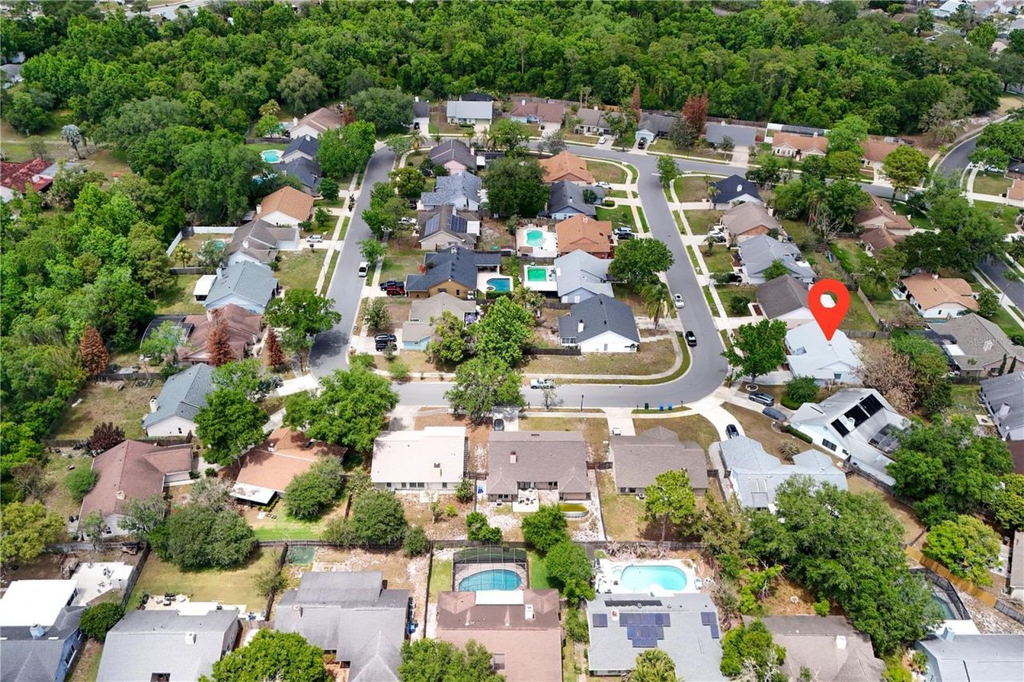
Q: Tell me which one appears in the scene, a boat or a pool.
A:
pool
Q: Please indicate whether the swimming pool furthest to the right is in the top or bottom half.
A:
bottom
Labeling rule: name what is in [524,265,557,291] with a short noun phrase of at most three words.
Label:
swimming pool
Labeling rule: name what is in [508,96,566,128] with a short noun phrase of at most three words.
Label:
house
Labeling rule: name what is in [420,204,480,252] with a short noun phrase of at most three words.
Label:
house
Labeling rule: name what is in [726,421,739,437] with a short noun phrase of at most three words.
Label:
vehicle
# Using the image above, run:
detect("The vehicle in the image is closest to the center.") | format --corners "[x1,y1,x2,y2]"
[531,376,556,388]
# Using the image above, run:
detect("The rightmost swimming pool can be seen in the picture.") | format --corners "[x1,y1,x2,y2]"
[913,566,967,623]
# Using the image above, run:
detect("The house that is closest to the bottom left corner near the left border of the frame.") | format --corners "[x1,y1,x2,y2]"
[0,580,90,682]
